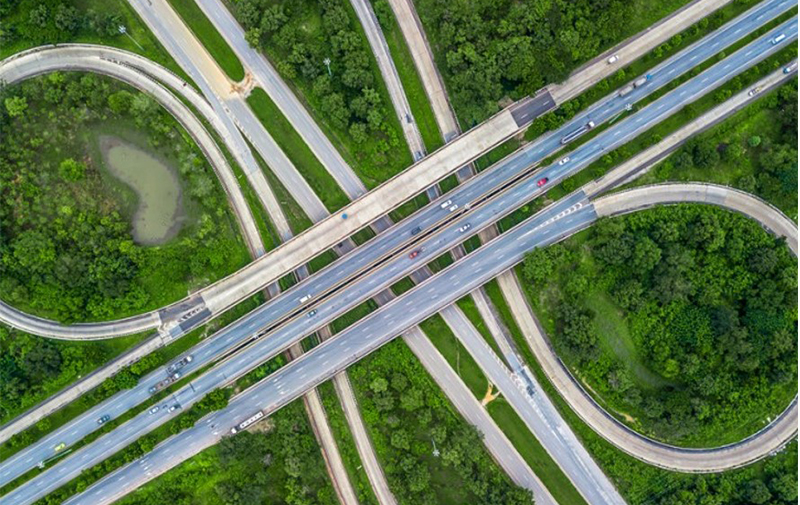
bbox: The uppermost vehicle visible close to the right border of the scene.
[770,32,788,45]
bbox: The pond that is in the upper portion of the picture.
[108,145,178,243]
